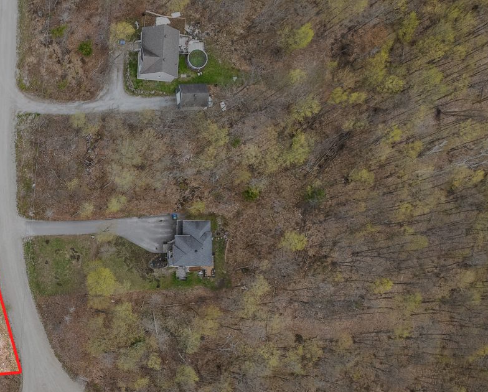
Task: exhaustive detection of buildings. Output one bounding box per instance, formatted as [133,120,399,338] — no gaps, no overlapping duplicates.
[165,220,215,279]
[133,26,207,83]
[176,84,208,110]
